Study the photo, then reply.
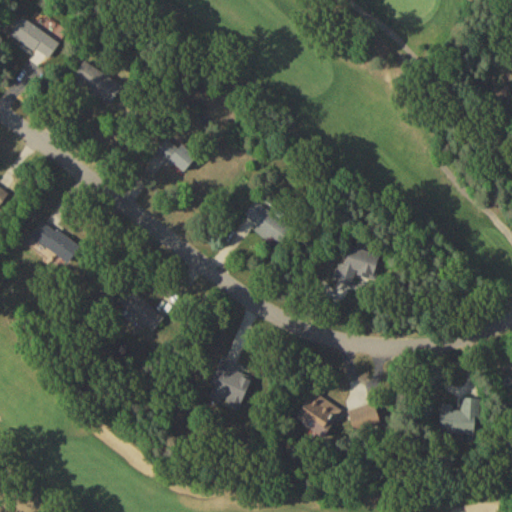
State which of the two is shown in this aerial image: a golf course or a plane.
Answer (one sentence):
Looking from above, you can make out a golf course.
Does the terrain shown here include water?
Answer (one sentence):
No, there is no water in the image.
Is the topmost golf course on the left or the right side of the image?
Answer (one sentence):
You can find the topmost golf course on the right side of the picture.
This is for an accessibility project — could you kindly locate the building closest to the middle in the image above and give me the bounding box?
[247,203,290,240]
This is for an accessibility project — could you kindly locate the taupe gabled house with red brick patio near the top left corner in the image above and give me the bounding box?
[14,20,58,58]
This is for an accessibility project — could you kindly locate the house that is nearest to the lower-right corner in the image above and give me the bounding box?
[440,397,480,432]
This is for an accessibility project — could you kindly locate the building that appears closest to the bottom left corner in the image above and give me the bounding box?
[118,297,161,337]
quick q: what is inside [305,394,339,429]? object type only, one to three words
house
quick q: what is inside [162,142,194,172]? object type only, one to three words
house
